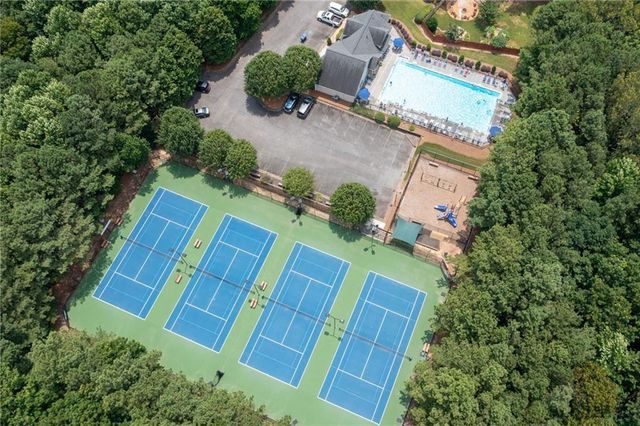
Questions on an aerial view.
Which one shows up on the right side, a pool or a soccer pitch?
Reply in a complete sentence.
What appears on the right side is a pool.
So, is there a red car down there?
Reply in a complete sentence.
No, the picture doesn't show any red car.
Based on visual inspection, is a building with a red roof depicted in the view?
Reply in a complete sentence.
No, no building with a red roof is visible in the view.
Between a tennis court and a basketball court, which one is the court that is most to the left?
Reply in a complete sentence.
I'd identify the court that is most to the left as a tennis court.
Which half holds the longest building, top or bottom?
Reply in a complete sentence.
Seen from above, the longest building lies in the top half of the view.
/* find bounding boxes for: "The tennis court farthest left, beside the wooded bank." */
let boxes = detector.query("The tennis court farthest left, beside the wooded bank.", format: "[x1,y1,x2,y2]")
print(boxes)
[92,187,209,320]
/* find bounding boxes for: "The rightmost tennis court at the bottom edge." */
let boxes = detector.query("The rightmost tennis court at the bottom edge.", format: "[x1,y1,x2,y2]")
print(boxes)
[318,270,427,425]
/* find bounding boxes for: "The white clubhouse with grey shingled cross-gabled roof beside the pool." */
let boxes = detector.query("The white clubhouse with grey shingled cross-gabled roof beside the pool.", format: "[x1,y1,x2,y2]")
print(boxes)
[314,11,392,104]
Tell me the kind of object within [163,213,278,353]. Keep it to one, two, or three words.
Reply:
tennis court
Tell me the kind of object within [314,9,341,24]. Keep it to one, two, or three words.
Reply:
vehicle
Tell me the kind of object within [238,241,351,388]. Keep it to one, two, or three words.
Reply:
tennis court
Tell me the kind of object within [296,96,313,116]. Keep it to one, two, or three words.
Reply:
car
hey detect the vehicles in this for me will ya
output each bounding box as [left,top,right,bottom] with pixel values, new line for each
[282,91,298,112]
[296,96,313,116]
[188,81,211,91]
[314,9,341,24]
[327,0,349,16]
[189,105,210,116]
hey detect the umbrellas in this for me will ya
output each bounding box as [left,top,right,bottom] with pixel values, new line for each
[358,87,371,101]
[488,126,501,139]
[391,39,404,52]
